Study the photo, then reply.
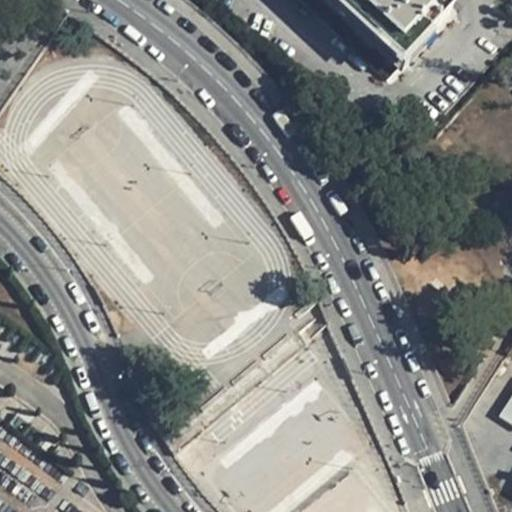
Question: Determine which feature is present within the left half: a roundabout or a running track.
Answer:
running track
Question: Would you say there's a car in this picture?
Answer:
Yes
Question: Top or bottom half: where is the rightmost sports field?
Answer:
bottom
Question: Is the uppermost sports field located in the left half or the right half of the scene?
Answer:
left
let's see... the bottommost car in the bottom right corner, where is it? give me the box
[424,470,438,488]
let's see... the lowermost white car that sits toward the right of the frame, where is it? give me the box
[395,436,410,456]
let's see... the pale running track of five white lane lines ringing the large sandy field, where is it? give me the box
[2,63,291,368]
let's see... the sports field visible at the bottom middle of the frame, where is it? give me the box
[194,348,402,512]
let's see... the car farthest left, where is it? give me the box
[5,251,25,273]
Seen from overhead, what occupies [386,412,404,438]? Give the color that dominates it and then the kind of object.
white vehicle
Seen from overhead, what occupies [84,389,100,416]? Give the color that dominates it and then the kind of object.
white vehicle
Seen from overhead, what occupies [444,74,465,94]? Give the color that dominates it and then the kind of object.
white car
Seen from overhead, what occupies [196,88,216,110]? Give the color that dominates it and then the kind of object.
white car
